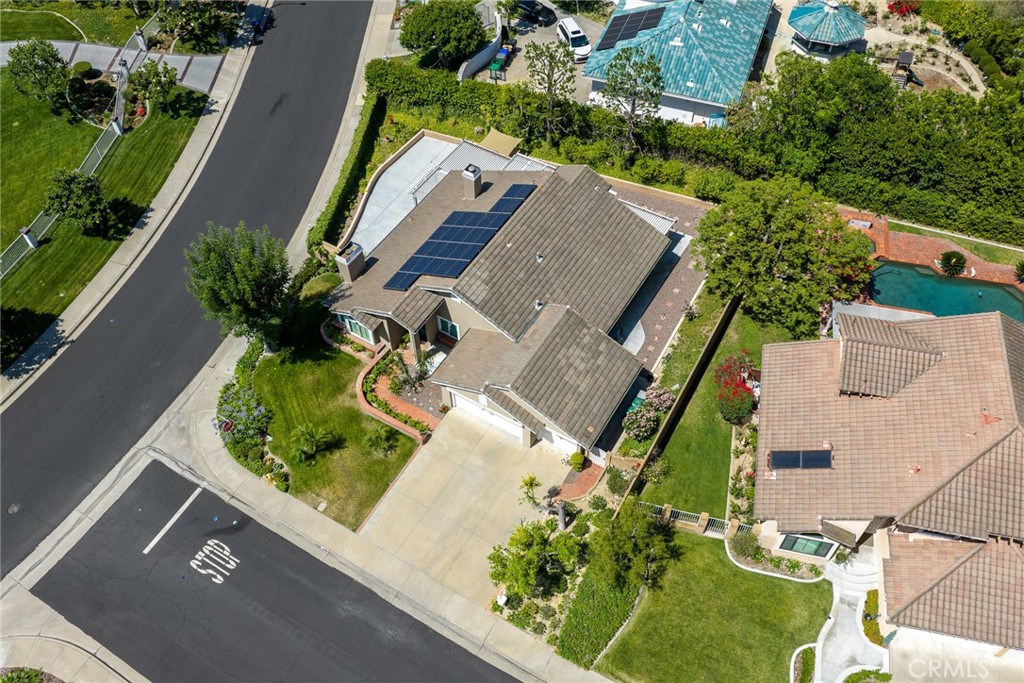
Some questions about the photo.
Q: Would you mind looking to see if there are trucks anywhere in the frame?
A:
No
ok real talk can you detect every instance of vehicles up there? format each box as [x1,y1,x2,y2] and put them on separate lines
[517,0,552,23]
[559,19,591,62]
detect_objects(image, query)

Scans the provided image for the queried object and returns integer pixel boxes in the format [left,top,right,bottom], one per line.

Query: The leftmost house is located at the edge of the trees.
[324,163,672,459]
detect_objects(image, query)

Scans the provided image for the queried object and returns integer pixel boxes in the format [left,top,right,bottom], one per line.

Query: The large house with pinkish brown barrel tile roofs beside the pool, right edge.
[753,310,1024,665]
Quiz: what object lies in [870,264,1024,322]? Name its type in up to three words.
swimming pool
